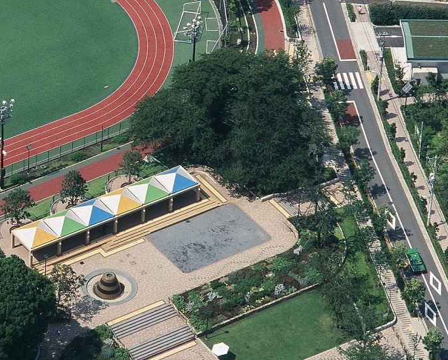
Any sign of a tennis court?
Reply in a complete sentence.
No, I can't see a single tennis court in this photo.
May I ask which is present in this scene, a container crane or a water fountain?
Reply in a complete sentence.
It is a water fountain that can be seen here.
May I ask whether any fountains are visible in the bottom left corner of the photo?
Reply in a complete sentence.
Yes, a fountain is visible in the bottom left corner of the photo.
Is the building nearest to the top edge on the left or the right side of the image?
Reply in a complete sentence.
It is on the right.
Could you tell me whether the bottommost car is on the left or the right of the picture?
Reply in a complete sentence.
You can find the bottommost car on the right side of the picture.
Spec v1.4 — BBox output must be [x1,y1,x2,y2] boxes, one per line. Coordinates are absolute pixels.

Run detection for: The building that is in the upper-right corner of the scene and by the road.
[382,19,448,99]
